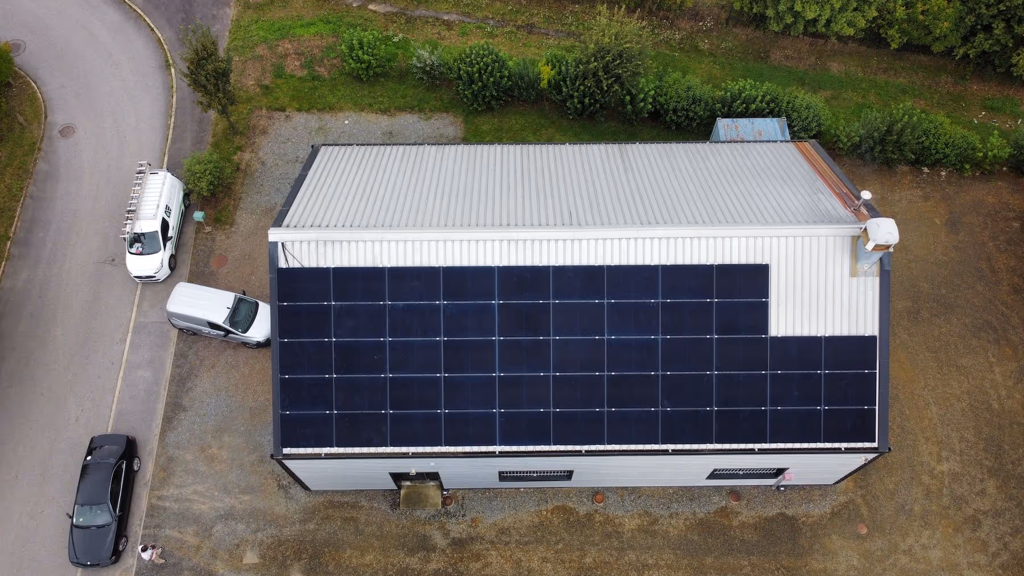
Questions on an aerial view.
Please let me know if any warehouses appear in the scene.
Yes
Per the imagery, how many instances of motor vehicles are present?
three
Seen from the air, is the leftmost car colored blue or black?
black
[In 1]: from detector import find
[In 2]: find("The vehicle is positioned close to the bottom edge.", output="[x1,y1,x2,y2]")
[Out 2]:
[61,436,142,572]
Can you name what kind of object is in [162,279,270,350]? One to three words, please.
van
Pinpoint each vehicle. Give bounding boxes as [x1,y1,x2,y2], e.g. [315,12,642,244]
[118,165,190,283]
[61,436,142,572]
[162,279,270,350]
